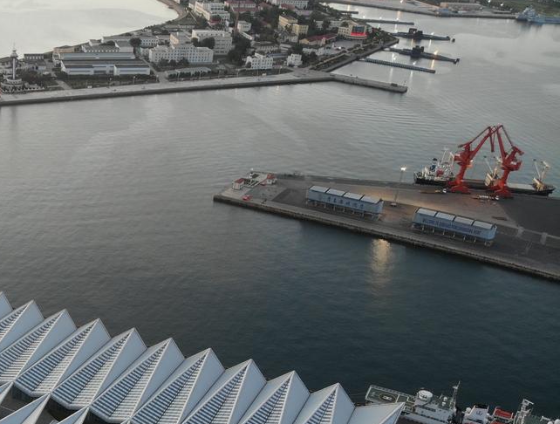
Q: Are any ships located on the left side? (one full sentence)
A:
No, no ship is visible on the left side.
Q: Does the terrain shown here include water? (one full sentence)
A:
Yes, water shows up in the scene.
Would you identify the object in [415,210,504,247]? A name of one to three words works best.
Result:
building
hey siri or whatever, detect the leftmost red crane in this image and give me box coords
[446,124,501,196]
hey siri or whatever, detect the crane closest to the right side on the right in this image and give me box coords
[488,124,538,201]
